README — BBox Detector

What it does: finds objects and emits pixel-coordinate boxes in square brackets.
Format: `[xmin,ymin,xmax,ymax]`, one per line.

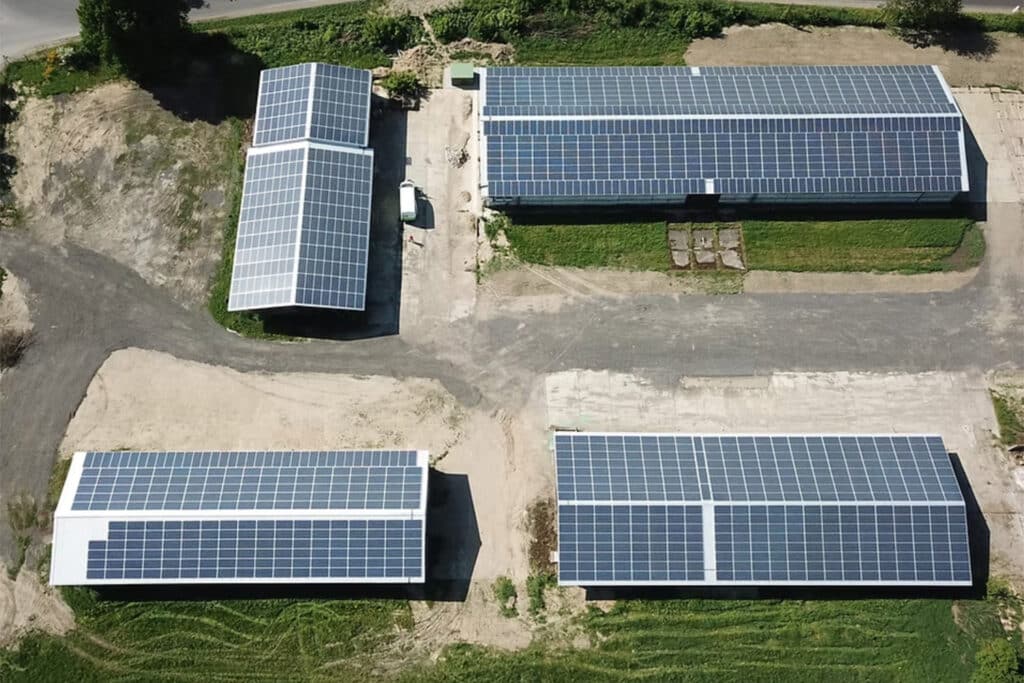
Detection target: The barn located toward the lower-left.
[49,450,429,586]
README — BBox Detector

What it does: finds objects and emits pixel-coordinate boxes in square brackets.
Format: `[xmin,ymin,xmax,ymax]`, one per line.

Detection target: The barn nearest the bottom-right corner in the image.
[551,432,972,587]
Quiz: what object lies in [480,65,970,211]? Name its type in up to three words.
barn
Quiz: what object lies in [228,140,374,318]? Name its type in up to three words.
barn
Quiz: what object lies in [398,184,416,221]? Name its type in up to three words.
vehicle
